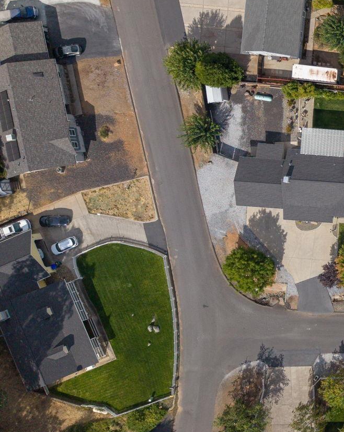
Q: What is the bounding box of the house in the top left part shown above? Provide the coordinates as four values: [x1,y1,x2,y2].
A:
[0,20,90,180]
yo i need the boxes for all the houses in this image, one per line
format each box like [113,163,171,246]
[240,0,311,60]
[0,20,90,180]
[0,229,109,391]
[233,143,344,223]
